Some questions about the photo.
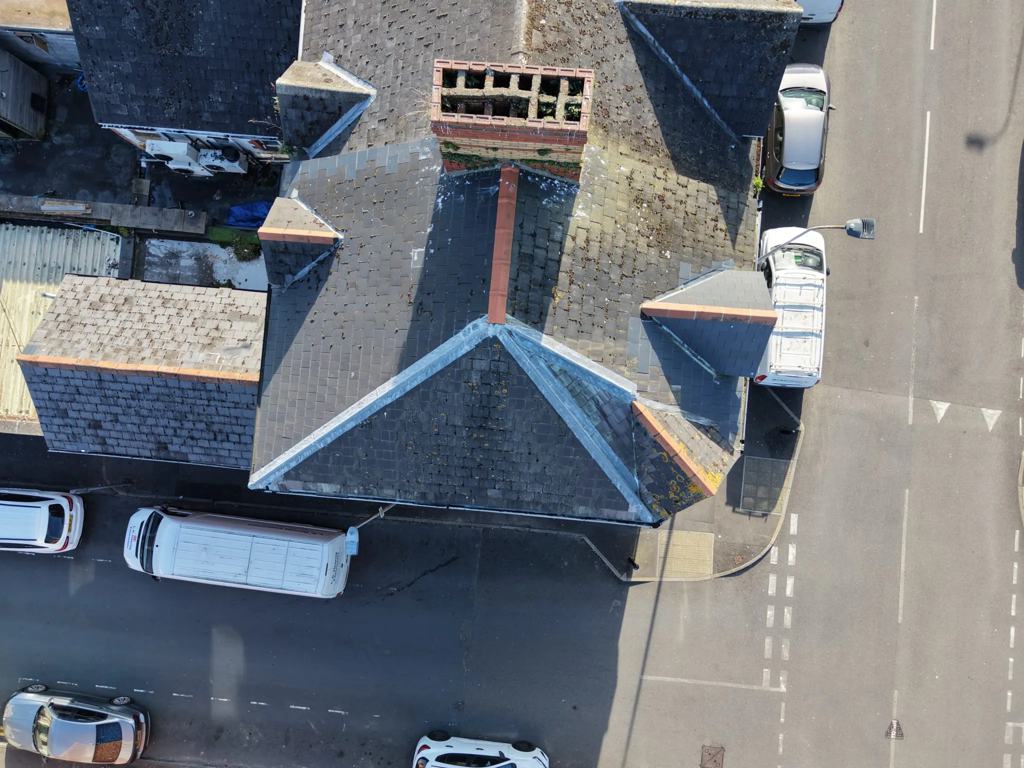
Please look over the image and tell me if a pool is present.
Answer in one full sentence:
No, this view has no pool in it.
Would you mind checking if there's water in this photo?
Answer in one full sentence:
No, the picture contains no water.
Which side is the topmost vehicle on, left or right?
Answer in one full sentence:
The topmost vehicle sits on the right side.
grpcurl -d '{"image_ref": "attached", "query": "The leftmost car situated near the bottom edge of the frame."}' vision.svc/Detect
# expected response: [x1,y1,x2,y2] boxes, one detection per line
[0,684,156,768]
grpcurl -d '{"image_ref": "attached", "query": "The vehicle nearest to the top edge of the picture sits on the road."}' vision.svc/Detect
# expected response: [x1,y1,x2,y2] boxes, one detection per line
[799,0,854,26]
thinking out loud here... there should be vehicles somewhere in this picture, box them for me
[799,0,854,26]
[413,728,551,768]
[122,497,351,602]
[751,227,833,390]
[761,65,837,198]
[0,480,86,552]
[0,684,156,768]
